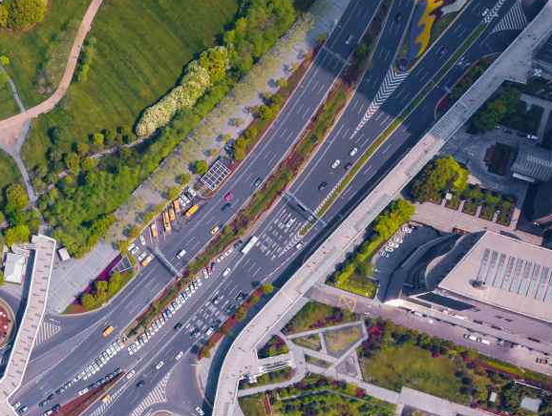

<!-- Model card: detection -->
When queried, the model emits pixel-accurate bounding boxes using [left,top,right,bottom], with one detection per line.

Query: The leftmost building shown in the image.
[4,244,31,284]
